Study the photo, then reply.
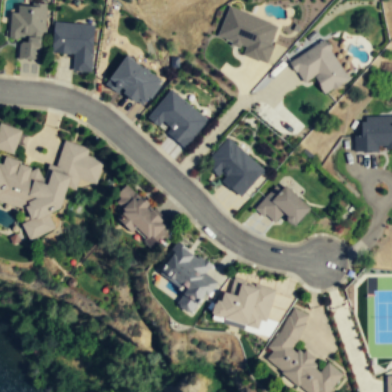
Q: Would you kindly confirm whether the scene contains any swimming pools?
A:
Yes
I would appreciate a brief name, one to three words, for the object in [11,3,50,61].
house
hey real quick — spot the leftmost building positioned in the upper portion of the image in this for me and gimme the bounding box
[0,123,23,155]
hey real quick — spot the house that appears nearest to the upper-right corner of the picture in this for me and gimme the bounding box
[292,40,354,96]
